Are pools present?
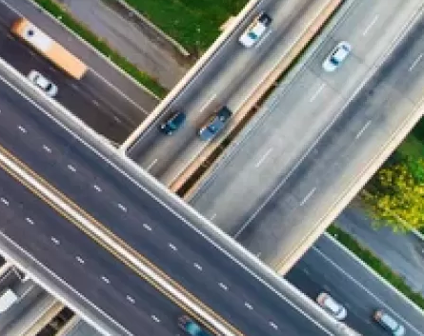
No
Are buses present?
Yes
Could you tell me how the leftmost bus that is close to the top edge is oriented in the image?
at an angle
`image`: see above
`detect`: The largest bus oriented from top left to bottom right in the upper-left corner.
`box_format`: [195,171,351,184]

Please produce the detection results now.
[7,15,86,80]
